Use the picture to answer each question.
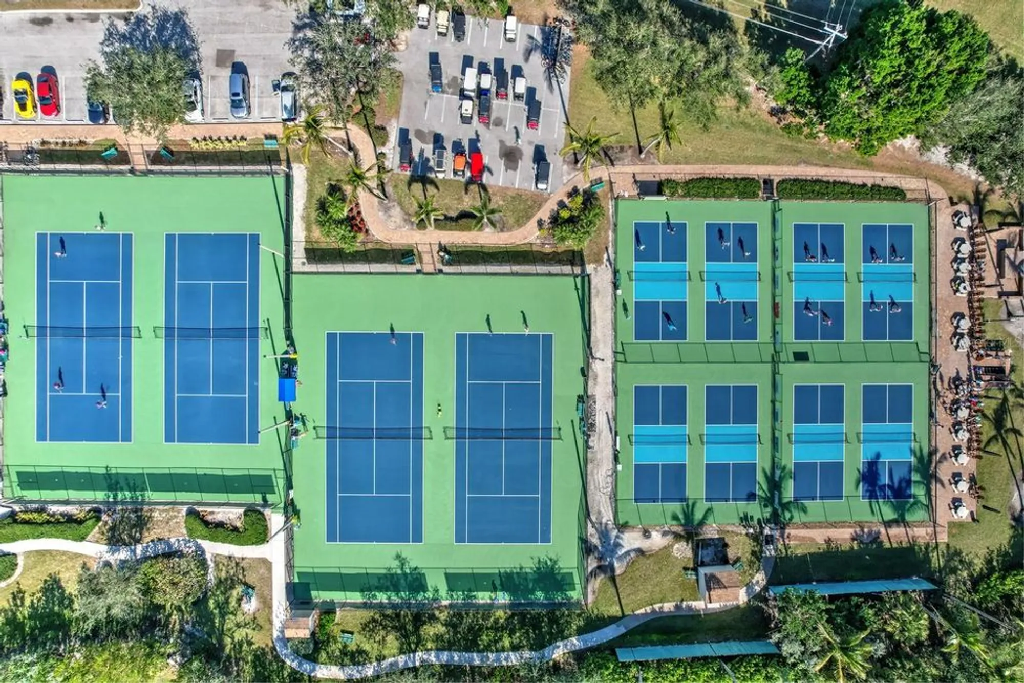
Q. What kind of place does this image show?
sports ground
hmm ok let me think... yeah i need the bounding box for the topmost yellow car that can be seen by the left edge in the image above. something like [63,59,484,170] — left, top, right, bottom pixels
[14,78,38,119]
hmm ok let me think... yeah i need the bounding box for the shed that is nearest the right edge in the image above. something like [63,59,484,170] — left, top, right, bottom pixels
[700,564,741,604]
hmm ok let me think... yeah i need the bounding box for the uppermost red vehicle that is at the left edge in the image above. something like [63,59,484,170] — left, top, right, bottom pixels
[38,75,62,116]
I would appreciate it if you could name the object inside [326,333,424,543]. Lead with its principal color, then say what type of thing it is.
blue tennis court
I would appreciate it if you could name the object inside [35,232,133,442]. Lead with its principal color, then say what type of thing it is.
blue tennis court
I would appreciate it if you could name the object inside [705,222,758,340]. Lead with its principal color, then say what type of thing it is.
blue sports court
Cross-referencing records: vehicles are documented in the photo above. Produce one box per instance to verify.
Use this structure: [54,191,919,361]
[185,80,205,122]
[536,161,549,191]
[430,67,443,94]
[463,68,476,100]
[14,78,38,119]
[480,73,491,98]
[505,16,516,44]
[496,74,508,101]
[527,101,540,131]
[478,97,490,126]
[417,3,431,31]
[228,74,250,117]
[434,151,447,179]
[453,153,466,178]
[399,145,413,172]
[453,13,466,43]
[38,75,62,116]
[86,85,109,125]
[461,100,473,127]
[437,10,450,38]
[471,154,483,182]
[514,77,526,104]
